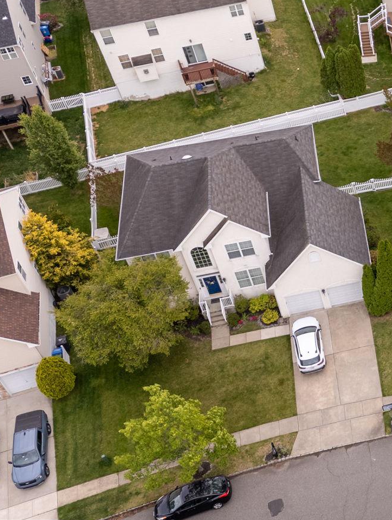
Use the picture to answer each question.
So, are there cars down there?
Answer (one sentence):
Yes, a car can be made out from above.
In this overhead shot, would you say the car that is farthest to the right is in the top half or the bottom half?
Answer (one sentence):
You can find the car that is farthest to the right in the bottom half.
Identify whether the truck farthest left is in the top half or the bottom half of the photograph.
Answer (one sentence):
It is in the bottom half that the truck farthest left appears.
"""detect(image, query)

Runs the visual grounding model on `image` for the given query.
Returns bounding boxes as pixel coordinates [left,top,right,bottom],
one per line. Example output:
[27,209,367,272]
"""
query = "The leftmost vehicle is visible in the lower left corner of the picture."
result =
[6,405,51,487]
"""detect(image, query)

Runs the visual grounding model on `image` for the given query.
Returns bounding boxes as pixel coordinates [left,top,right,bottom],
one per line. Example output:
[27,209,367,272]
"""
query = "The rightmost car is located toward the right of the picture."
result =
[289,319,326,374]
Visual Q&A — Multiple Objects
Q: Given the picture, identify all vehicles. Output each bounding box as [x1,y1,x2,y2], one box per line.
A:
[6,405,51,487]
[289,319,326,374]
[151,476,233,520]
